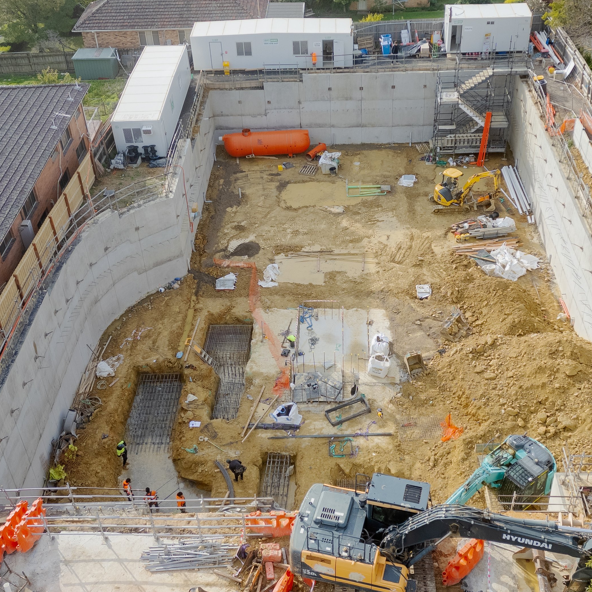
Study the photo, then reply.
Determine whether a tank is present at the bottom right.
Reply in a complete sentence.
No, there's no tank to be seen at the bottom right.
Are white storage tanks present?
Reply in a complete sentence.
No, no white storage tank can be seen from above.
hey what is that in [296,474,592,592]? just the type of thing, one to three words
work vehicle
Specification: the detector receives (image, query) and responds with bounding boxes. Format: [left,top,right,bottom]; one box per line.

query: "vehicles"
[430,426,554,510]
[424,169,500,214]
[296,474,592,592]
